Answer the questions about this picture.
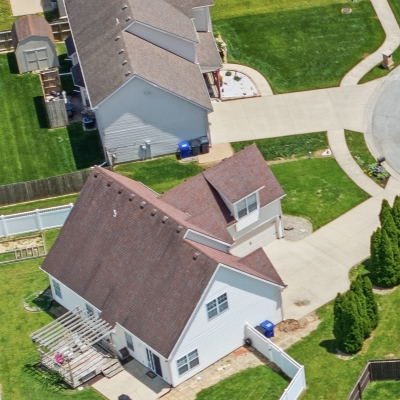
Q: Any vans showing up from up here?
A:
No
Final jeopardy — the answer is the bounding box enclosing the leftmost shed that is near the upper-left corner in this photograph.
[9,8,59,74]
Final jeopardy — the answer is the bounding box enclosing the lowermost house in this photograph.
[41,141,287,387]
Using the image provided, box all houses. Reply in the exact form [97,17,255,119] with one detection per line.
[62,0,226,165]
[41,141,287,387]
